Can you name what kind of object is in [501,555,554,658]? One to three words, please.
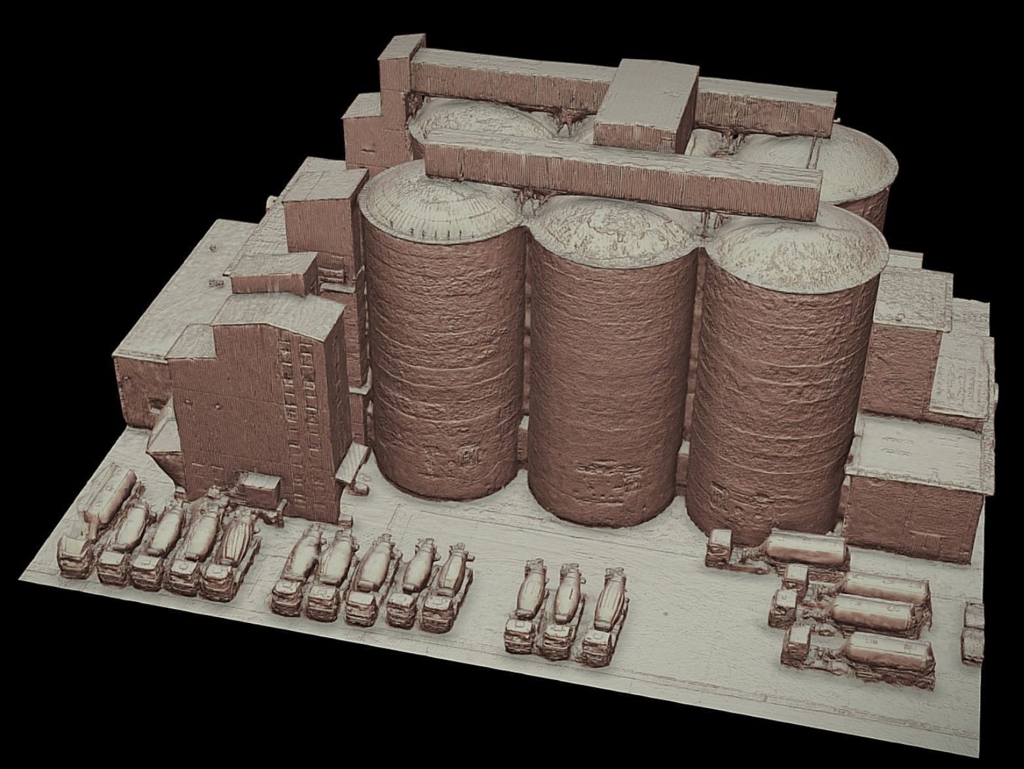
truck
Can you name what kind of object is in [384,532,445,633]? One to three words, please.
truck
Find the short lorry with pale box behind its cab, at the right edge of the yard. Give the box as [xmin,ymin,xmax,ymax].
[961,603,985,670]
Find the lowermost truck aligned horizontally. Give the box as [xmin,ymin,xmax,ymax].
[782,625,938,691]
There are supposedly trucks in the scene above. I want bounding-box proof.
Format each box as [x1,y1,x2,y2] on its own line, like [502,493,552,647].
[961,603,985,670]
[201,506,266,604]
[268,516,330,618]
[782,625,938,691]
[501,555,554,658]
[129,496,195,593]
[420,535,479,635]
[305,525,365,625]
[579,566,633,672]
[60,467,137,584]
[780,566,927,625]
[95,493,162,589]
[768,589,923,644]
[167,499,235,599]
[704,529,851,589]
[540,559,593,663]
[343,530,404,630]
[384,532,445,633]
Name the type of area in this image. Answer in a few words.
industrial area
